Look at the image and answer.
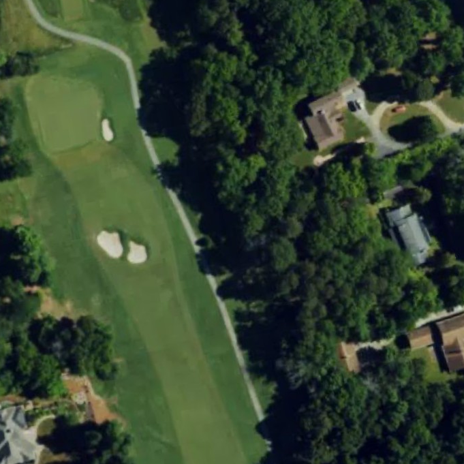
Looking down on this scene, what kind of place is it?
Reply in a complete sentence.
This image shows a golf course.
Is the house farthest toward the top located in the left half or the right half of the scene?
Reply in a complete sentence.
You can find the house farthest toward the top on the right side of the picture.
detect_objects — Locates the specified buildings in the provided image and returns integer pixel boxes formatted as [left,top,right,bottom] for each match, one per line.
[387,204,432,266]
[407,326,434,350]
[433,314,464,376]
[338,342,362,374]
[0,405,44,464]
[304,76,362,150]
